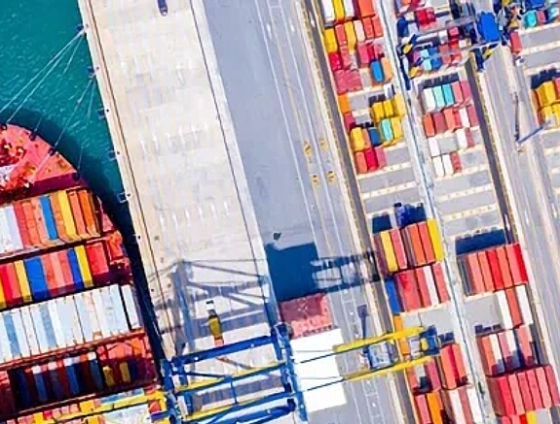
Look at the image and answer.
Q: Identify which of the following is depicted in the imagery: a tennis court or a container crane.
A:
container crane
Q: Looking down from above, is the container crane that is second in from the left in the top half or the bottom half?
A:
top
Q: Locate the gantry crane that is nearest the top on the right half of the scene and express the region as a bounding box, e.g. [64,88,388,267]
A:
[495,0,560,45]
